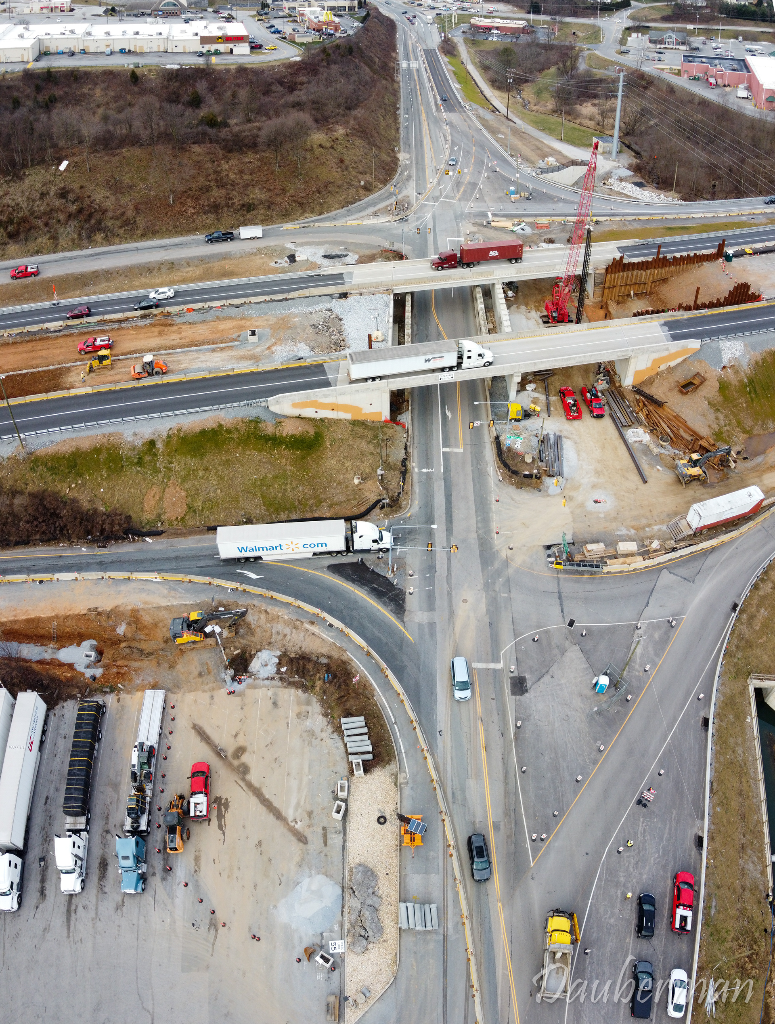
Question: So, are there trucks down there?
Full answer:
Yes, a truck appears in the view.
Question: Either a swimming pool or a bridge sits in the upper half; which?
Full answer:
It is a bridge that can be seen in the upper half.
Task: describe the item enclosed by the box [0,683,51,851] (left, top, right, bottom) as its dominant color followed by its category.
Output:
white trailer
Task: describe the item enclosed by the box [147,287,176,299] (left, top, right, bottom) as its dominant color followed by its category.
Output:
white vehicle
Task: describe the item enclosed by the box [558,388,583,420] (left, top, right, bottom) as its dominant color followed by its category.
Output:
red truck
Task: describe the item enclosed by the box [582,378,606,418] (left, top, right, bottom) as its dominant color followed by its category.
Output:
red truck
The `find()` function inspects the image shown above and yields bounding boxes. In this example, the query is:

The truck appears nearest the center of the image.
[329,520,395,556]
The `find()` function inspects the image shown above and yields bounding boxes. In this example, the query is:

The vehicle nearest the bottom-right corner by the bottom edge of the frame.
[666,969,689,1020]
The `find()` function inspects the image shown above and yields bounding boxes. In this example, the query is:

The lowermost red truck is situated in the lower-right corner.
[669,872,698,938]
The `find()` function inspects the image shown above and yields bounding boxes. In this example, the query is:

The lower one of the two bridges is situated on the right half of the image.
[269,315,699,407]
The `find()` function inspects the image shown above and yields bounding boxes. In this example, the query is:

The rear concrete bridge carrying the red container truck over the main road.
[322,240,639,291]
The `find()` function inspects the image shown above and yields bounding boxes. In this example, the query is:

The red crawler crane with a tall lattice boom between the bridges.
[534,137,602,328]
